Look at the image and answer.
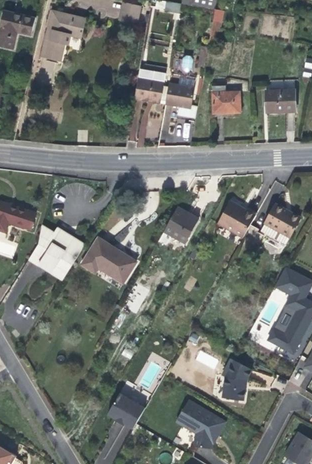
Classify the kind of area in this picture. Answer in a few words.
residential area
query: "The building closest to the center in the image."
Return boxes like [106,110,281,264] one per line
[164,206,200,246]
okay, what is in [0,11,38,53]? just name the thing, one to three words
house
